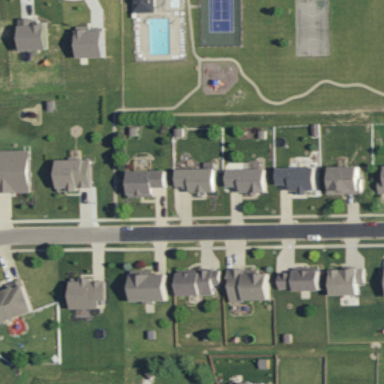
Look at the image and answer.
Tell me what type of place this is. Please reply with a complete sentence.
This looks like a residential area.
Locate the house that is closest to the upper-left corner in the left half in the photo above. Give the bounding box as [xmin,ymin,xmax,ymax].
[14,18,48,50]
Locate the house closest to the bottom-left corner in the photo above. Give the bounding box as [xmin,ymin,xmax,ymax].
[0,274,32,322]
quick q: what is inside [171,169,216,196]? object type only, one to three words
house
